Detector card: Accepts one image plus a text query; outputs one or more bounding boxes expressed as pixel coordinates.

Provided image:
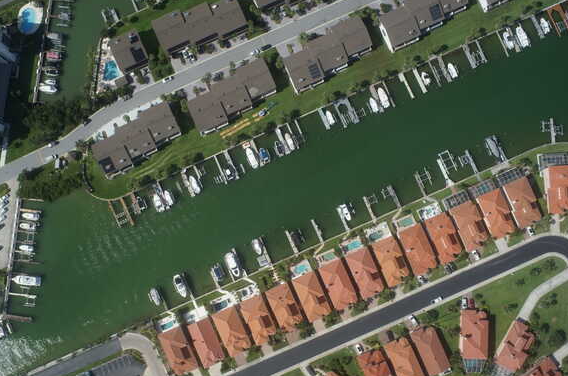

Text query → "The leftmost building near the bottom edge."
[159,326,196,375]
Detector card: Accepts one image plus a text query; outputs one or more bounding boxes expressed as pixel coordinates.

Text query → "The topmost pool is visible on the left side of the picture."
[18,2,43,35]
